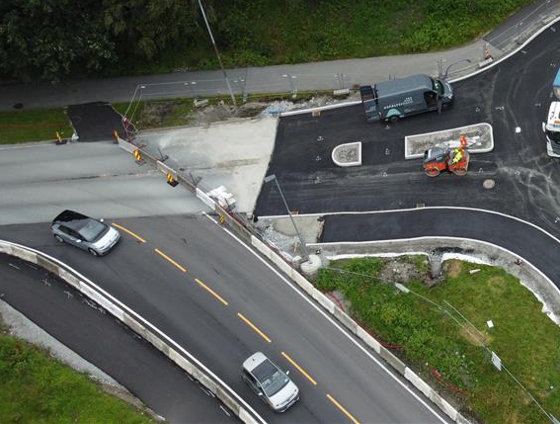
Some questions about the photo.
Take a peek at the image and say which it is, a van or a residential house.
van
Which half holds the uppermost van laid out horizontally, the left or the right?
right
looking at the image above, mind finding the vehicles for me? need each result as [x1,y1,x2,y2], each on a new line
[421,133,471,175]
[46,210,118,257]
[541,68,560,159]
[237,341,301,412]
[362,72,457,120]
